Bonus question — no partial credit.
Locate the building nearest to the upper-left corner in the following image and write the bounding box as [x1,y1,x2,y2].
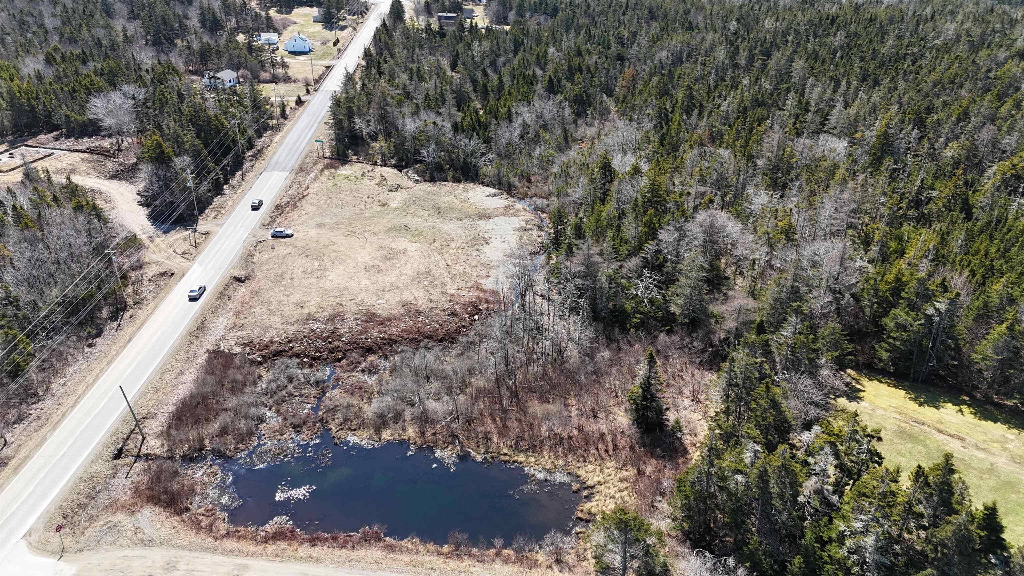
[207,68,244,87]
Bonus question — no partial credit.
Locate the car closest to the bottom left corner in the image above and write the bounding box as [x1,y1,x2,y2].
[187,286,206,301]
